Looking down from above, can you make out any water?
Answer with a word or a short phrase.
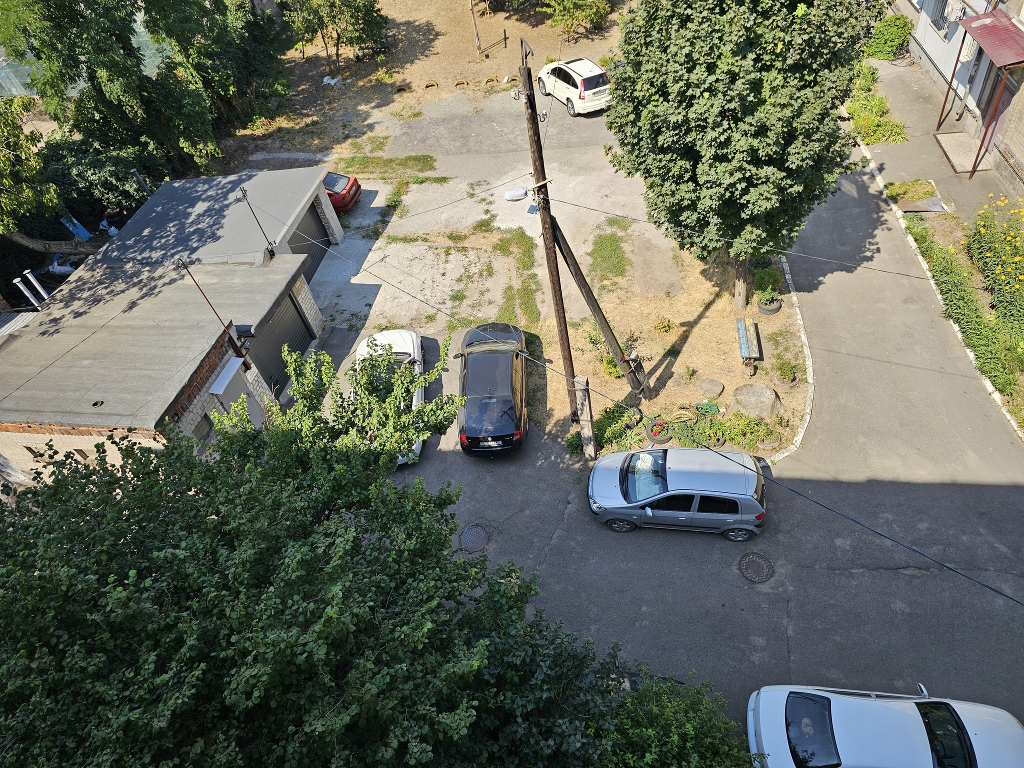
No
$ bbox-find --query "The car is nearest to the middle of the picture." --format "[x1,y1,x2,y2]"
[455,323,532,462]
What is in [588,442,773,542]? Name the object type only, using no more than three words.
car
